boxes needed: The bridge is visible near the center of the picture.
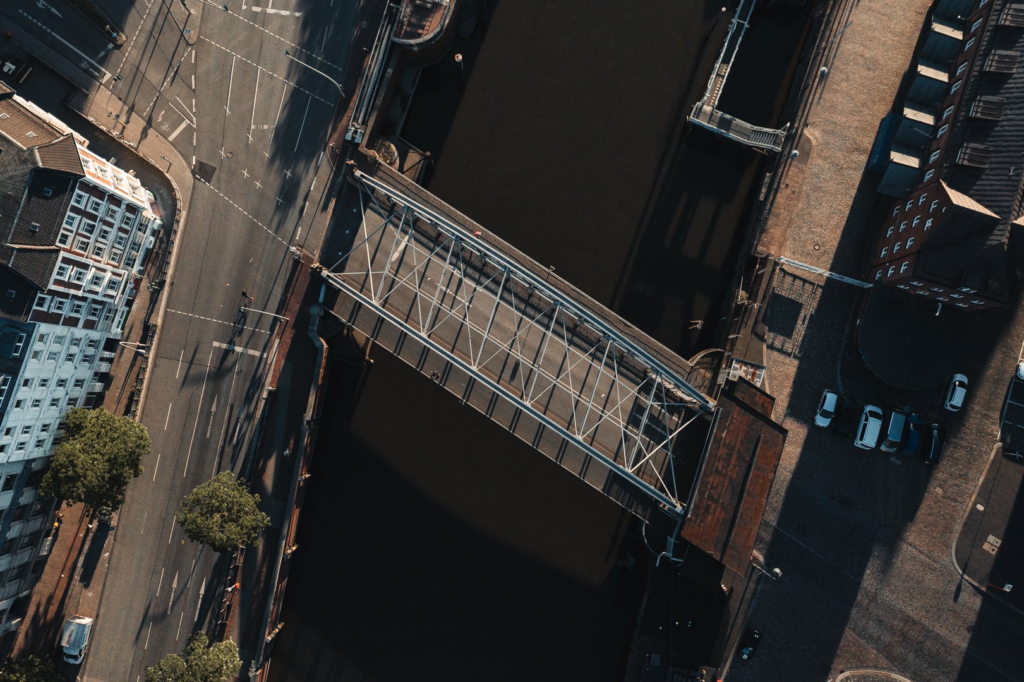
[313,158,723,528]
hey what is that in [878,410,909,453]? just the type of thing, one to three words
van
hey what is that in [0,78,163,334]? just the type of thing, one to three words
building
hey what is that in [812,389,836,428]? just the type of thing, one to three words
car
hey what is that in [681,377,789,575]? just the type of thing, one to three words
building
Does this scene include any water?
Yes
